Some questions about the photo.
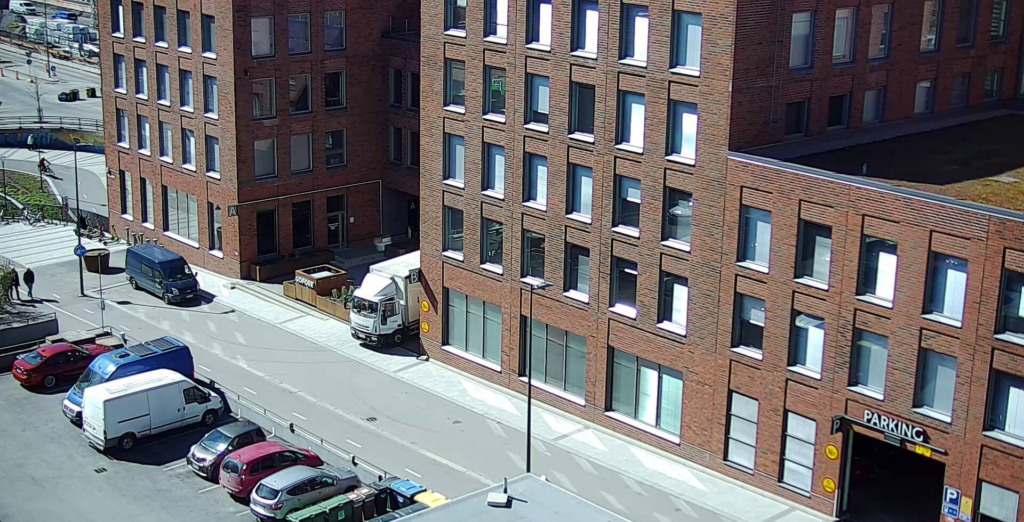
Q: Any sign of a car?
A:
Yes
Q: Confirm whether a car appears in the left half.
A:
Yes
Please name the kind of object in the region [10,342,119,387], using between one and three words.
car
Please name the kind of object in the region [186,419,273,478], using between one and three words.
car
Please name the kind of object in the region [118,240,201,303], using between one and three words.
van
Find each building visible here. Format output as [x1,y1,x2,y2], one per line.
[393,472,637,522]
[419,0,1024,522]
[97,0,380,275]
